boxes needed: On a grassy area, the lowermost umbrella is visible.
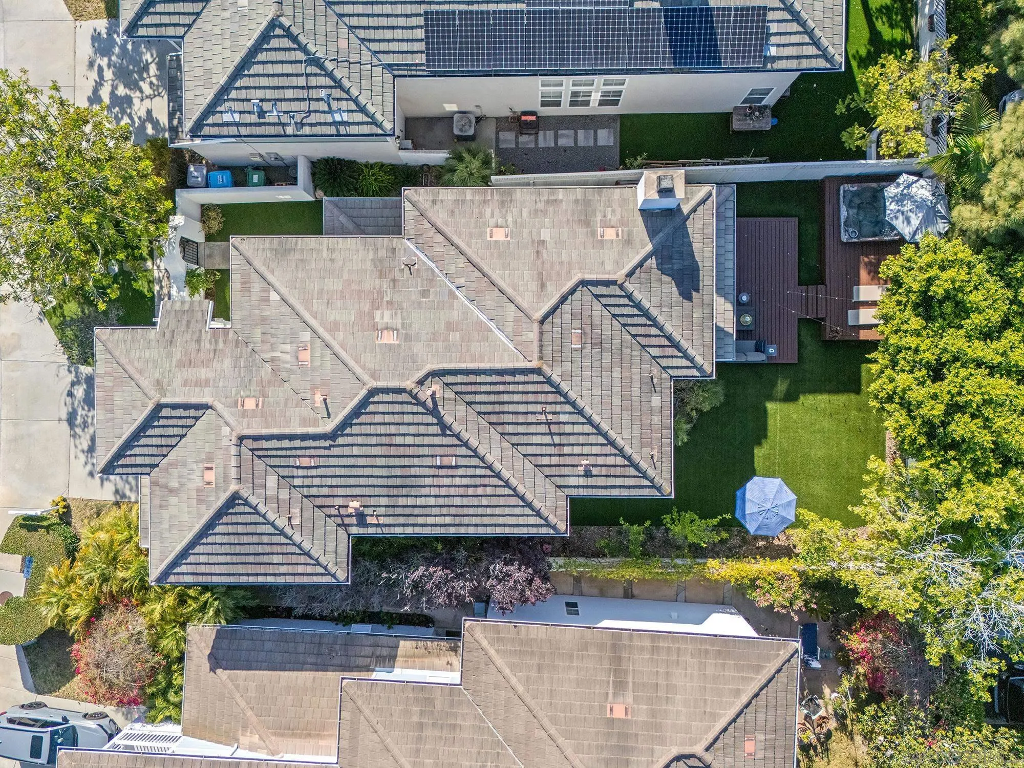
[734,476,794,535]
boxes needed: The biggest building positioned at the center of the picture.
[95,171,736,584]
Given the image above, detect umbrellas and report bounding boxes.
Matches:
[734,476,794,535]
[881,170,956,245]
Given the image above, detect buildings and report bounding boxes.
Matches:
[119,0,844,164]
[49,599,799,768]
[95,171,736,584]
